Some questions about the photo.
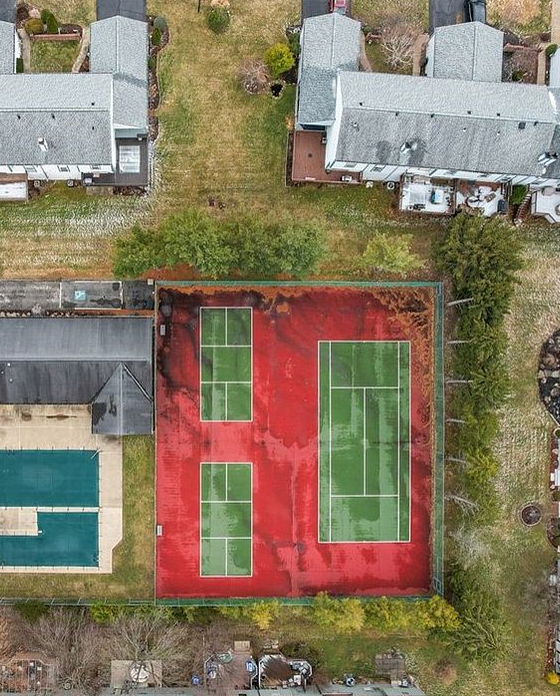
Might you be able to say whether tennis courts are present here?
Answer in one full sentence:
Yes, the photo shows a tennis court.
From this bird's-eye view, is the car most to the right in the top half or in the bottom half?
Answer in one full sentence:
It is in the top half that the car most to the right appears.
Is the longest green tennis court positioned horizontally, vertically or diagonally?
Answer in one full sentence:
In this picture, the longest green tennis court lies vertically.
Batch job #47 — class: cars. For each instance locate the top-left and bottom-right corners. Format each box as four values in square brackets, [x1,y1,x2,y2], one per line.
[463,0,487,23]
[328,0,348,16]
